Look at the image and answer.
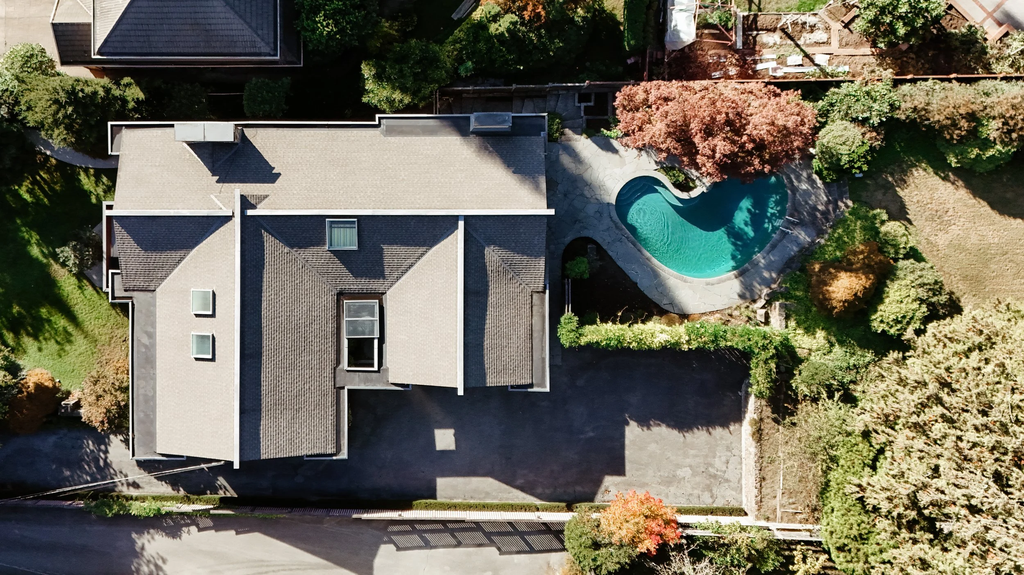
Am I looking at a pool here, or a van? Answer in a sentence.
It is a pool that can be seen here.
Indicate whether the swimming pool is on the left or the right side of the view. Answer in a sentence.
The swimming pool appears in the right half of the scene.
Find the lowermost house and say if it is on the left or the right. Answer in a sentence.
The lowermost house sits on the left side.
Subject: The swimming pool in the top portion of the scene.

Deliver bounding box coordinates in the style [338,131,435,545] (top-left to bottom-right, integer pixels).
[616,171,789,278]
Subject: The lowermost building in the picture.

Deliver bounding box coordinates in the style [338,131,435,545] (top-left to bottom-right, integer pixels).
[103,113,554,469]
